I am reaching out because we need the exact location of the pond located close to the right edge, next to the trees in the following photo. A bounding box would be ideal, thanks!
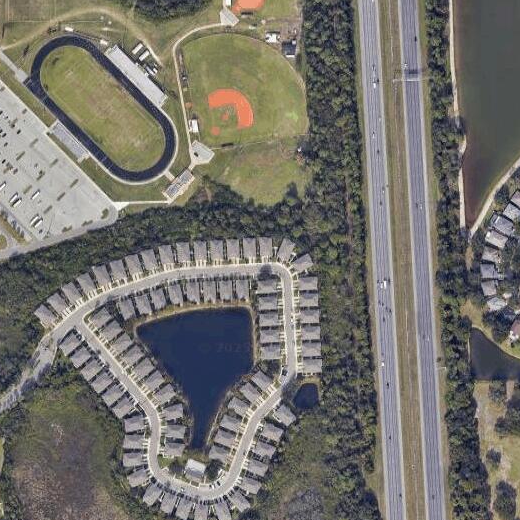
[470,326,520,380]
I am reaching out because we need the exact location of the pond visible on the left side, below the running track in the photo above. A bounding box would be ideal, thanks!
[136,306,253,451]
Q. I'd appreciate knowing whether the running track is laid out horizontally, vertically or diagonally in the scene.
diagonally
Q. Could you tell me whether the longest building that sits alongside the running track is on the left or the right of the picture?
left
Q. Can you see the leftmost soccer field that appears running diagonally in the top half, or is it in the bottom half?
top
